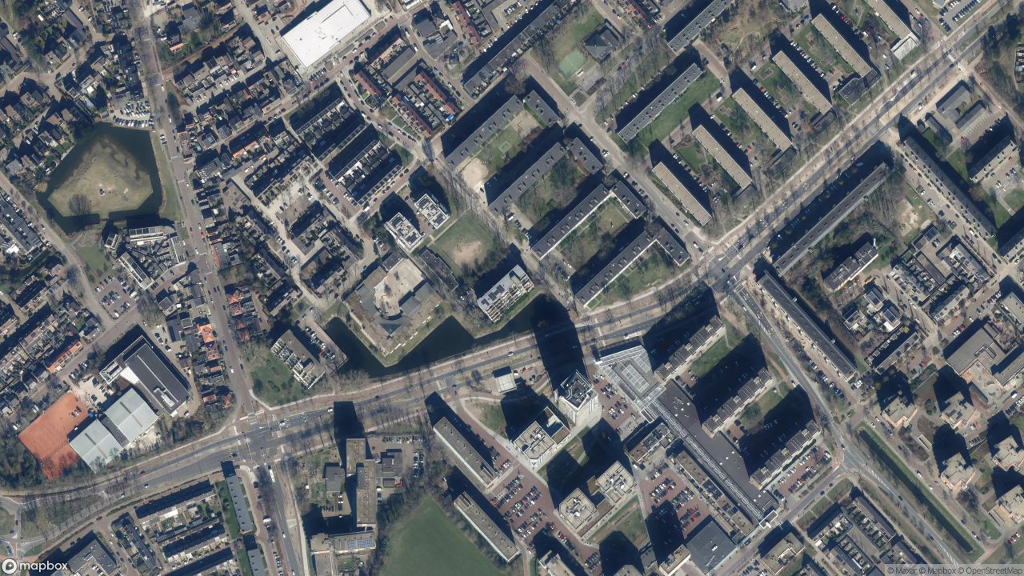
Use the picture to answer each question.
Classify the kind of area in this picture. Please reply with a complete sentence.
The picture captures a residential area.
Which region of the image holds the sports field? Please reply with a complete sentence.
Look in the bottom portion of the view to spot the sports field.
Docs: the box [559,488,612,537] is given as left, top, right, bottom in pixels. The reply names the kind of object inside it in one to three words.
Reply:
building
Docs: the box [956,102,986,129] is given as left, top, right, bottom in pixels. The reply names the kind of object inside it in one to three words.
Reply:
building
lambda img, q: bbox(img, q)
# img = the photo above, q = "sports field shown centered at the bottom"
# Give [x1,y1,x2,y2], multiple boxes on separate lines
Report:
[379,495,515,576]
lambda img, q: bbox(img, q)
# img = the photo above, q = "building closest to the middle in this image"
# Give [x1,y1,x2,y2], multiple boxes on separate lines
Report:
[477,264,534,327]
